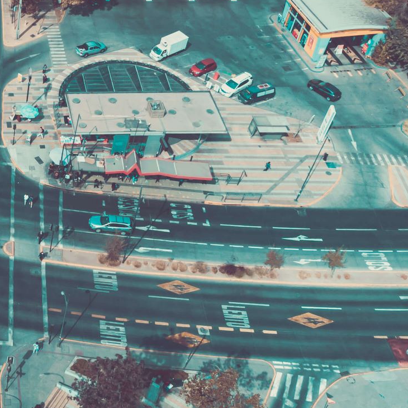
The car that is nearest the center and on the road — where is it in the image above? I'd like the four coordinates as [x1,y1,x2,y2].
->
[90,212,133,235]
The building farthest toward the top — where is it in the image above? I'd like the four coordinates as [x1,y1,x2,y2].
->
[283,0,392,65]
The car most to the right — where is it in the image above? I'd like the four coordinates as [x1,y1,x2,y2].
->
[306,79,343,102]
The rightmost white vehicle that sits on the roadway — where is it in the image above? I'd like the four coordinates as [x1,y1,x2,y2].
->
[220,72,253,95]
